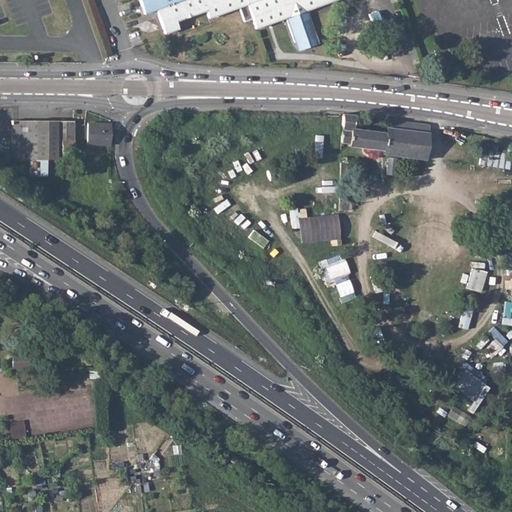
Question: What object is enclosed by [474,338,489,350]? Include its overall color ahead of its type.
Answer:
white vehicle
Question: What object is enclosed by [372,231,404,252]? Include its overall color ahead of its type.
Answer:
white vehicle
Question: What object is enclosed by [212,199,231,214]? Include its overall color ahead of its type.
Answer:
white camper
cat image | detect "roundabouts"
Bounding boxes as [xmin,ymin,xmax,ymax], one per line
[110,67,174,114]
